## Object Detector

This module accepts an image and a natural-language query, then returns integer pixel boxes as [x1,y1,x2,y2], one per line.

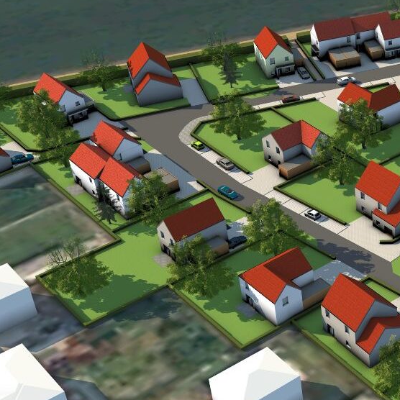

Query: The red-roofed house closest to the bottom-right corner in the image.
[321,274,400,365]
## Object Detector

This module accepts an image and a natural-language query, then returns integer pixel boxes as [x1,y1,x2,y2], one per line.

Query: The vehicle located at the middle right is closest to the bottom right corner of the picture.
[303,209,322,221]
